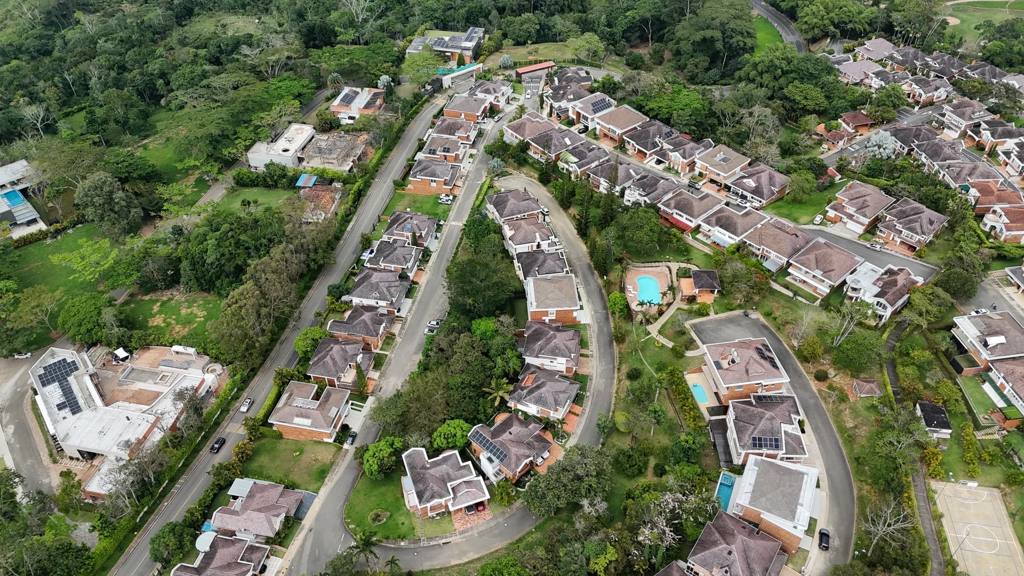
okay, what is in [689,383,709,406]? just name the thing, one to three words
swimming pool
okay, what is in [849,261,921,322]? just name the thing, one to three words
house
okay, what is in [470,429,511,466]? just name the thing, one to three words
solar array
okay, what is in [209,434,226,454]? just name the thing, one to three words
car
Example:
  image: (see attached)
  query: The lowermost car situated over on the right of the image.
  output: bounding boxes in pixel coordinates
[819,528,831,551]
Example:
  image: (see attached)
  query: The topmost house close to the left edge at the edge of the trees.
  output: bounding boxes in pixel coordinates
[28,345,221,503]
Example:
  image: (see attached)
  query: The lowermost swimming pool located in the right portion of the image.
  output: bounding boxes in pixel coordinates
[713,471,738,514]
